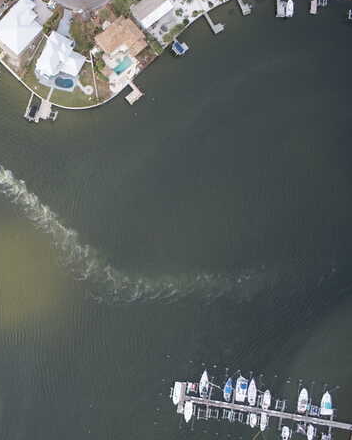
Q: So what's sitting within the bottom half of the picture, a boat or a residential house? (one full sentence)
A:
The feature located within the bottom half of the picture is a boat.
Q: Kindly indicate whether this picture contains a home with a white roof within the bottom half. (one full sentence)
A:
No, there's no home with a white roof to be seen within the bottom half.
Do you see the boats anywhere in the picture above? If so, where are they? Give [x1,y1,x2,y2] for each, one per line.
[286,0,294,17]
[307,423,313,440]
[249,378,267,405]
[171,39,189,57]
[320,433,331,440]
[322,391,332,413]
[174,380,181,404]
[225,378,242,402]
[260,412,268,430]
[250,412,257,427]
[263,390,271,410]
[298,388,309,412]
[309,406,320,415]
[185,400,193,422]
[235,376,248,402]
[200,371,216,398]
[189,381,196,393]
[282,425,289,440]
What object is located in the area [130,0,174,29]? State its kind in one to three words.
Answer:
house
